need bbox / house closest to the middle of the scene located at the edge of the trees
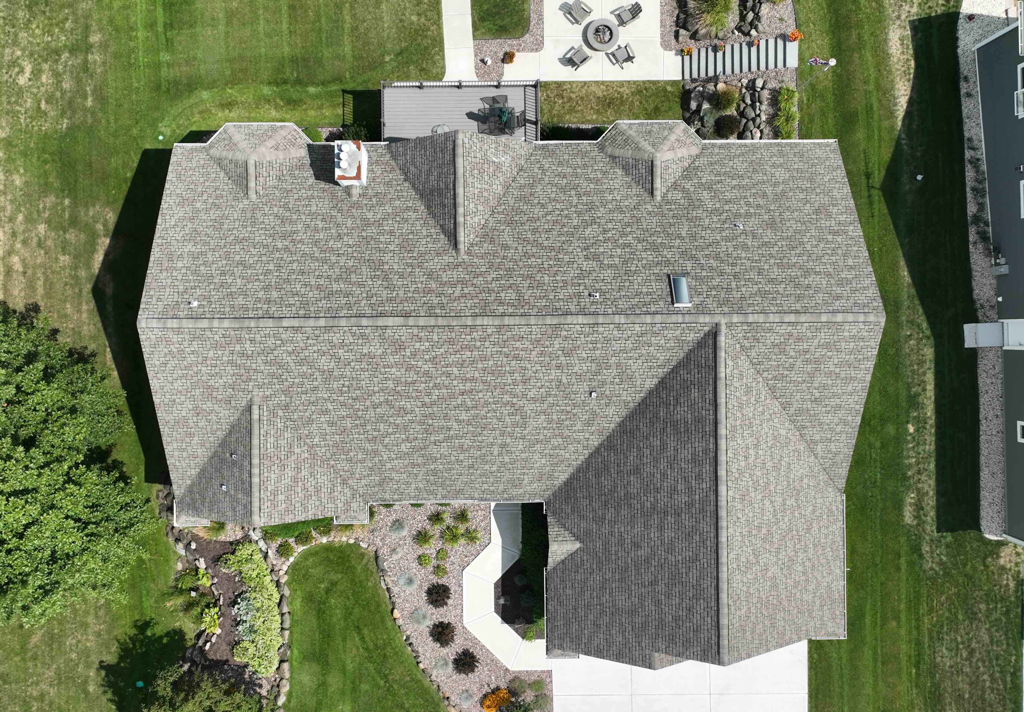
[136,120,886,671]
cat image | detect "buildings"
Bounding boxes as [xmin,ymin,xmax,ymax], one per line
[136,120,886,671]
[975,10,1024,543]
